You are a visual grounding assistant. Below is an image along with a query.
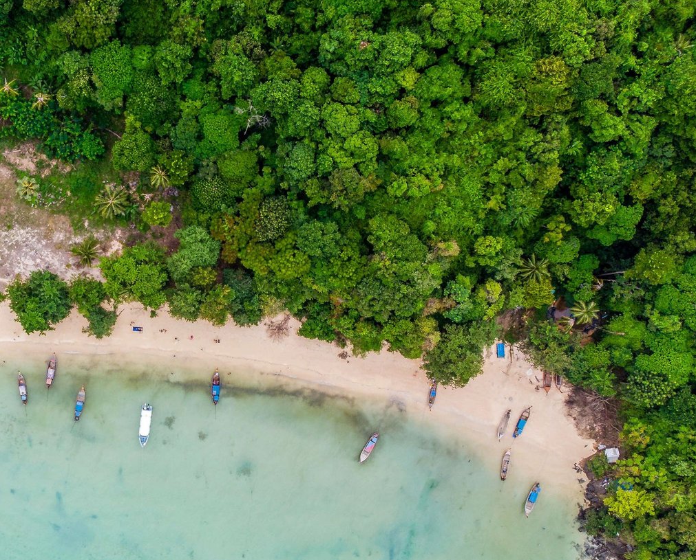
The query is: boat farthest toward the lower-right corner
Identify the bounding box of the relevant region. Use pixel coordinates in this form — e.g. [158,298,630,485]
[526,482,541,519]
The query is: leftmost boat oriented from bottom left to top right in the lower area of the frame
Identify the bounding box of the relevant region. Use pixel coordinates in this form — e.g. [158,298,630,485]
[360,432,380,464]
